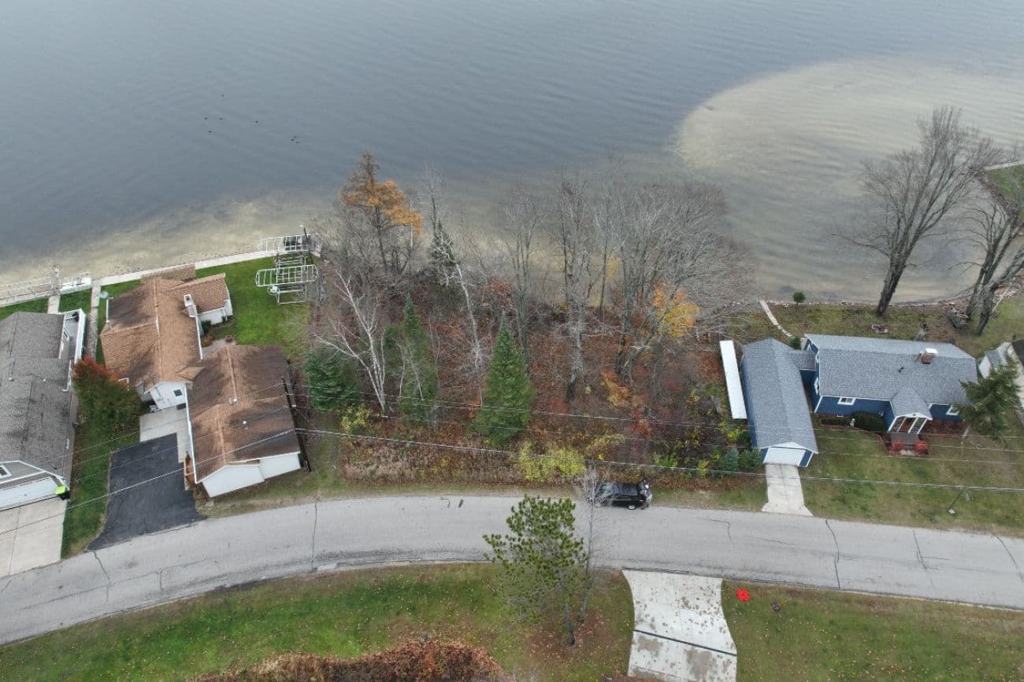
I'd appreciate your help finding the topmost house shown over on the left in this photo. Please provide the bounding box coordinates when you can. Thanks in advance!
[96,265,233,409]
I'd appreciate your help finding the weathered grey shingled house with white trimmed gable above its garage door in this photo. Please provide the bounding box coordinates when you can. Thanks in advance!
[0,308,88,512]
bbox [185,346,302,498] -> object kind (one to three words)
building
